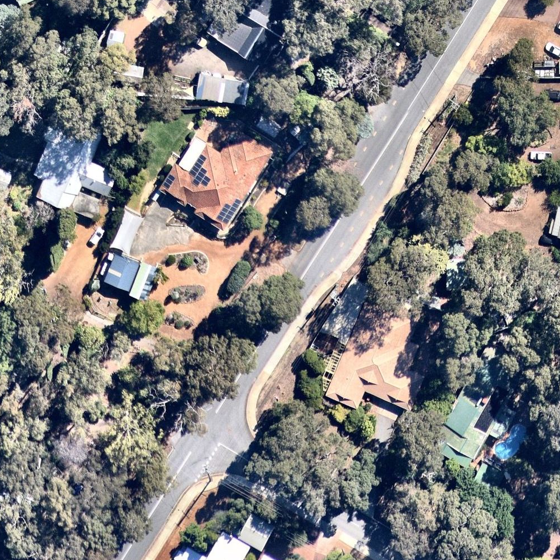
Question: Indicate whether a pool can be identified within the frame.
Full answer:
Yes, the frame does contain a pool.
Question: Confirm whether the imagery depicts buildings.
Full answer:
Yes, the photo shows a building.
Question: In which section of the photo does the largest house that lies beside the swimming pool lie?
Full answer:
You can find the largest house that lies beside the swimming pool in the bottom right area of the picture.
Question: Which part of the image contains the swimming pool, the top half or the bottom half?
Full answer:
Seen from above, the swimming pool lies in the bottom half of the view.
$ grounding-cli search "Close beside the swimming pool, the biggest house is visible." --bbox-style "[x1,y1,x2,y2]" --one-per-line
[441,387,501,462]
